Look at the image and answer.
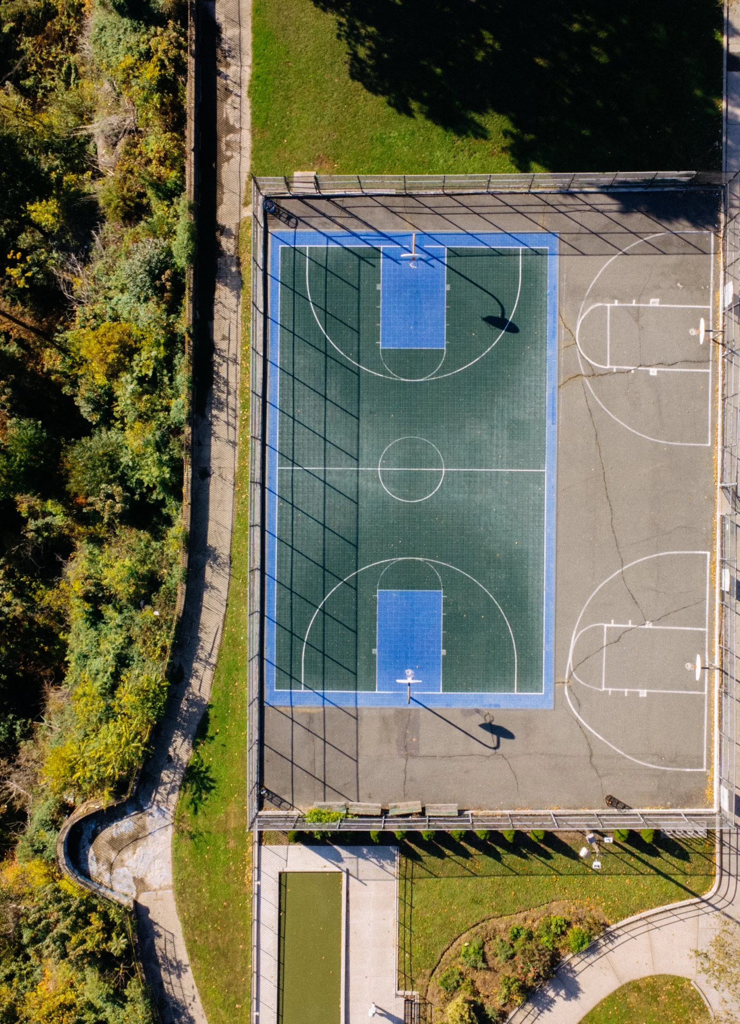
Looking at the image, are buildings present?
No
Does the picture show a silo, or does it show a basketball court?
basketball court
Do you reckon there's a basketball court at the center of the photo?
Yes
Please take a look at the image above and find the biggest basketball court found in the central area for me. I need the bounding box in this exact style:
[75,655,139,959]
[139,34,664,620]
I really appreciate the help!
[265,231,559,709]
